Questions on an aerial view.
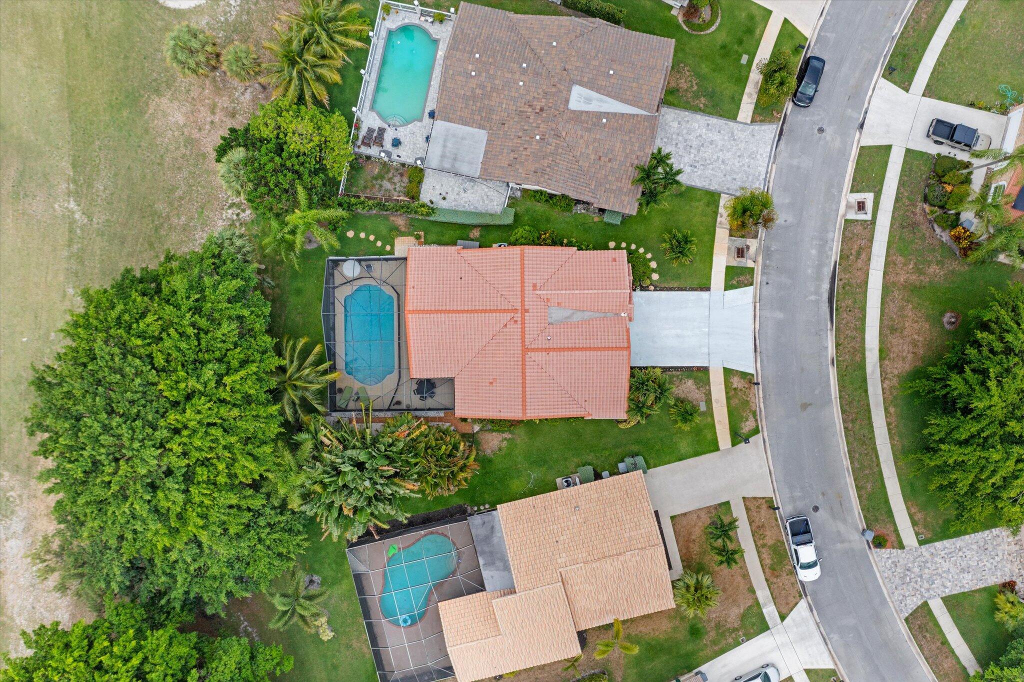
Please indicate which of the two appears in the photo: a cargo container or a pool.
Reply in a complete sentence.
Looking from above, you can make out a pool.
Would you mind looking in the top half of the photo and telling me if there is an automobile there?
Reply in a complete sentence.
Yes, there is an automobile in the top half of the photo.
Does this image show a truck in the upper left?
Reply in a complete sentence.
No, there is no truck in the upper left.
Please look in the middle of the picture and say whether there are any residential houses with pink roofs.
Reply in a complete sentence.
Yes, a residential house with a pink roof is visible in the middle of the picture.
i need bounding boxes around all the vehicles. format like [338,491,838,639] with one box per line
[794,54,827,109]
[923,116,993,156]
[733,663,782,682]
[787,514,822,583]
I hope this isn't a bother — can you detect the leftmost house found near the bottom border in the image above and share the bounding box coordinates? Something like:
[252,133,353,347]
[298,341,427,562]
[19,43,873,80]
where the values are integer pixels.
[437,470,677,682]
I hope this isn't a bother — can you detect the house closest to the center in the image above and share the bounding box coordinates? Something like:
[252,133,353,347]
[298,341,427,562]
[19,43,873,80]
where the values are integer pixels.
[403,244,635,421]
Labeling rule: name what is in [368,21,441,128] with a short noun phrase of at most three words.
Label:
swimming pool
